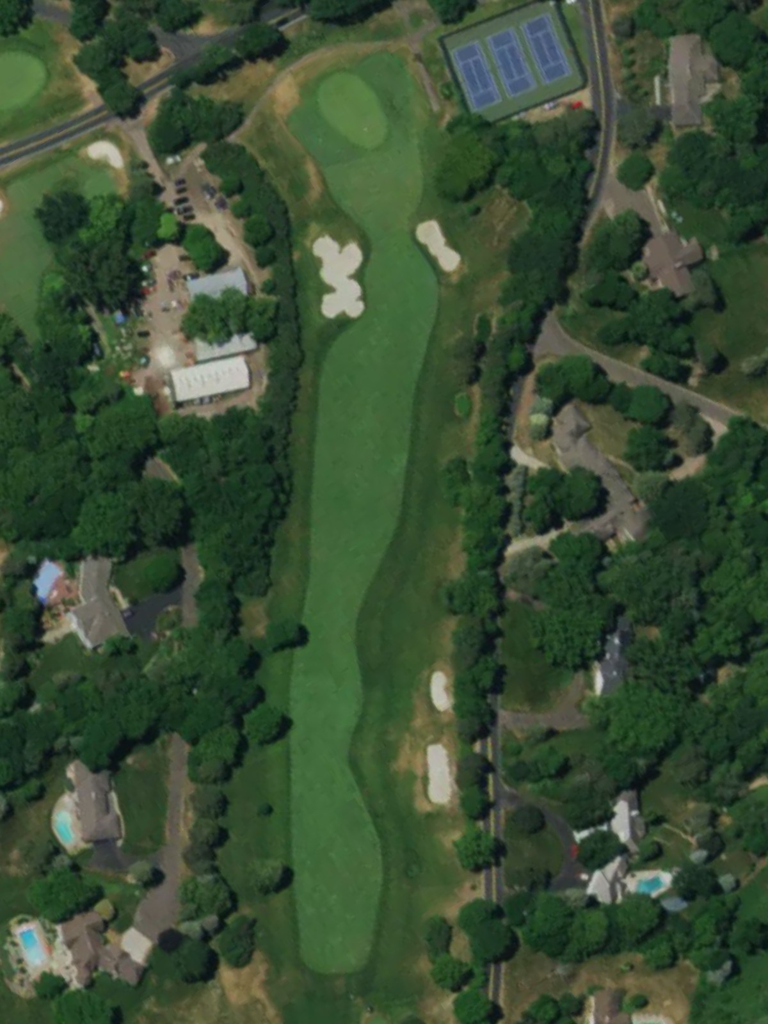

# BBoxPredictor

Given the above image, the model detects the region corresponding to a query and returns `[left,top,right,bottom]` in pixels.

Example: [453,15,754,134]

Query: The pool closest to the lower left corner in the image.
[13,920,54,980]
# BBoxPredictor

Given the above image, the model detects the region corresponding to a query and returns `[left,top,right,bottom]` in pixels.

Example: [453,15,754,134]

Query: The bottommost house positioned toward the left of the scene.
[56,904,151,992]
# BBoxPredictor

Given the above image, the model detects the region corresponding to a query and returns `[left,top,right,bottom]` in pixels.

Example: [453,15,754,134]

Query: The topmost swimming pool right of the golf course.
[625,870,672,897]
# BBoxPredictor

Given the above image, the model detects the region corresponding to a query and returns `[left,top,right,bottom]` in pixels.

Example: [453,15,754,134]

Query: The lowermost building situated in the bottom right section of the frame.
[592,988,634,1024]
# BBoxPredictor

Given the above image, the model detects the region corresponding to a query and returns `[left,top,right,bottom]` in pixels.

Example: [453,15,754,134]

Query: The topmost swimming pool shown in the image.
[34,560,63,605]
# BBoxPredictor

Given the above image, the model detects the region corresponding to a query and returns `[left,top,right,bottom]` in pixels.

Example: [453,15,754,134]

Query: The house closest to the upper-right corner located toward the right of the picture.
[667,35,723,127]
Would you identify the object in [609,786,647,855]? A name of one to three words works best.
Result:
house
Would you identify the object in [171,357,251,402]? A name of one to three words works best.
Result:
shed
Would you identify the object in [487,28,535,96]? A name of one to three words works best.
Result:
tennis court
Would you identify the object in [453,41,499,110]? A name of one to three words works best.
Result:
tennis court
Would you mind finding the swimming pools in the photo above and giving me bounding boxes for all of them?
[625,870,672,897]
[631,1016,674,1024]
[13,920,54,980]
[34,560,63,605]
[52,792,93,855]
